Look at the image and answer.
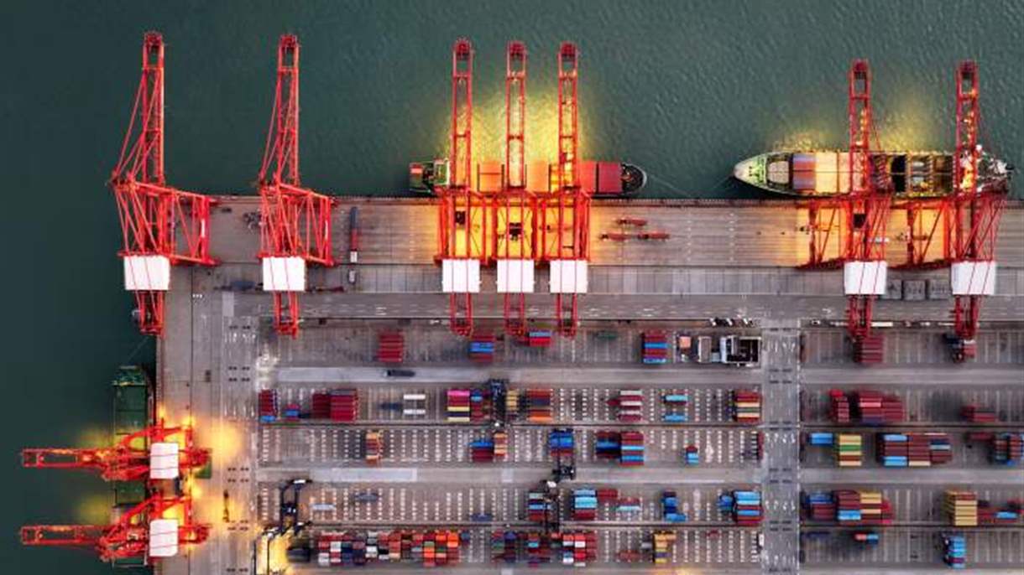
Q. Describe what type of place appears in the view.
port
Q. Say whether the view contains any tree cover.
No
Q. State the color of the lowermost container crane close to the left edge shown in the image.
red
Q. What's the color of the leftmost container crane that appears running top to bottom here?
red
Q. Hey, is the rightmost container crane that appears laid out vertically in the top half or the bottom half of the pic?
top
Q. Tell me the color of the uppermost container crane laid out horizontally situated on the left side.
red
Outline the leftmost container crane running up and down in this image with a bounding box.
[107,31,218,332]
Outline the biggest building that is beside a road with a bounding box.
[718,337,764,368]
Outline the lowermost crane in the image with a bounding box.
[251,524,287,575]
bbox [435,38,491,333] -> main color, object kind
red container crane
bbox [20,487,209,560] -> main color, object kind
red container crane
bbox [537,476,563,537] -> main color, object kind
black container crane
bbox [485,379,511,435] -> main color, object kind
black container crane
